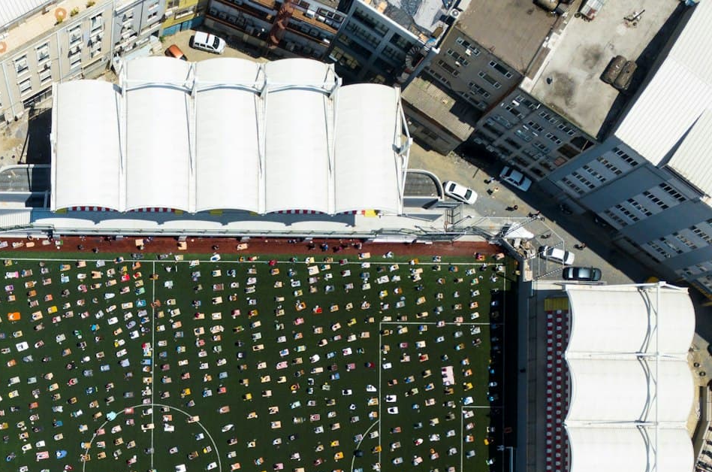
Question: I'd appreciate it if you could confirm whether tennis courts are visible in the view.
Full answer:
No, there appears to be no tennis court in this shot.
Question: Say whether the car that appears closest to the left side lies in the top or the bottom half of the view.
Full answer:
Seen from above, the car that appears closest to the left side lies in the top half of the view.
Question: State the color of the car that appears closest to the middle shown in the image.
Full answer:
From above, the car that appears closest to the middle appears white.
